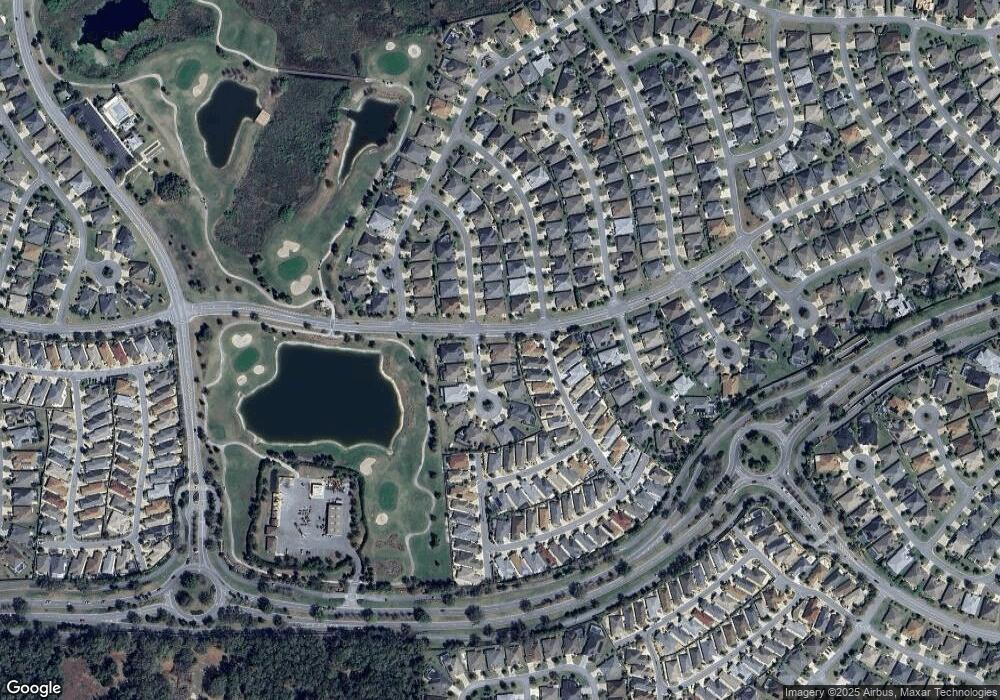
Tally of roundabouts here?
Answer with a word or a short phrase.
2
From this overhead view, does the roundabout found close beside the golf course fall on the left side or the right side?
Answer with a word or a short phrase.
left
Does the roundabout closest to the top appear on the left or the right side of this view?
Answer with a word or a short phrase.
right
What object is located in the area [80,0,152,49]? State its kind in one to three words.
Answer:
pond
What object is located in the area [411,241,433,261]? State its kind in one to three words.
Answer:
house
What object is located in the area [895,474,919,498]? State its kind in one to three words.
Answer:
house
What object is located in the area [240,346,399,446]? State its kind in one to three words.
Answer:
pond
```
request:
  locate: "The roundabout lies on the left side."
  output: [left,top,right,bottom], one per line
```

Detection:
[166,563,225,622]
